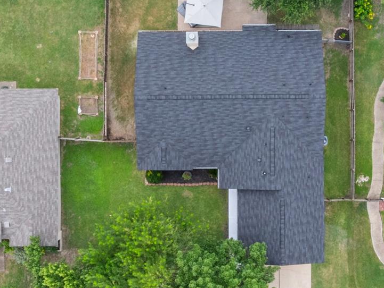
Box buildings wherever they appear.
[0,88,62,256]
[135,24,325,266]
